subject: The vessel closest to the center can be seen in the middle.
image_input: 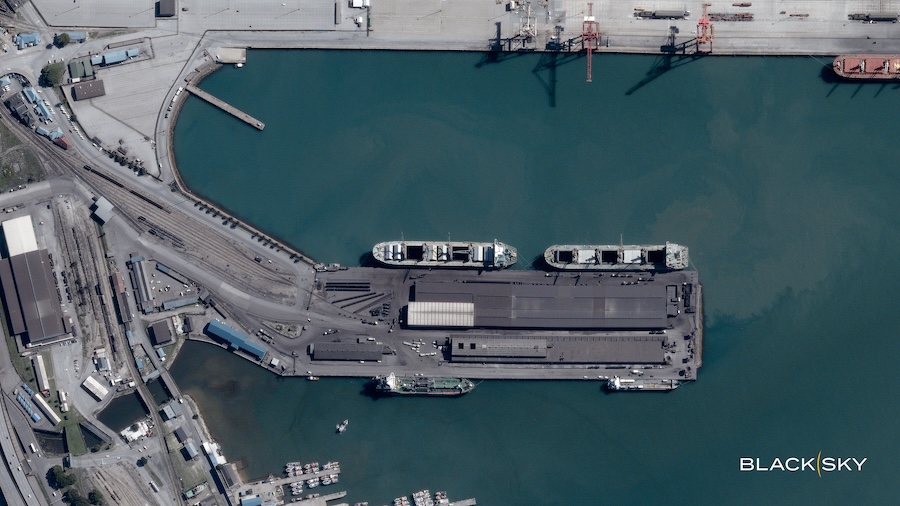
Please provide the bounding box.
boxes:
[361,233,527,269]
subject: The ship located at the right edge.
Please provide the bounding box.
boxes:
[808,54,900,81]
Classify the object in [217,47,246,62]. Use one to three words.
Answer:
pier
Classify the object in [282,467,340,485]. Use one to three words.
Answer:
pier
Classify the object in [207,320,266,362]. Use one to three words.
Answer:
shed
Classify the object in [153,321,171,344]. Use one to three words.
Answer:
building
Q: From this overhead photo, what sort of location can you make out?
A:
port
